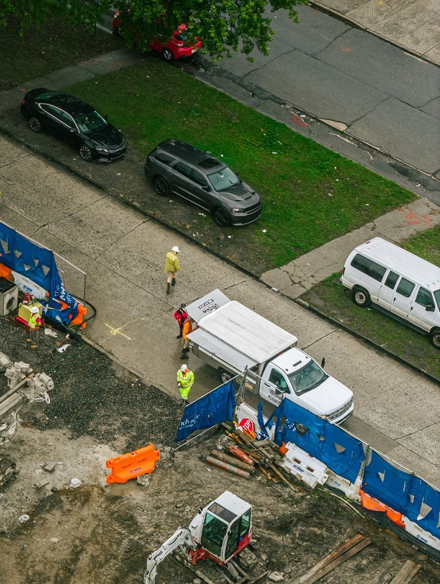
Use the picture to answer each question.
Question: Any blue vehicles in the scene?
No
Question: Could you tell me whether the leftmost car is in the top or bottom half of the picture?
top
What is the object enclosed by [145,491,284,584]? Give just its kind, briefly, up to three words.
work vehicle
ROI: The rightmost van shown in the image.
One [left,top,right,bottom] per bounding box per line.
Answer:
[327,222,440,344]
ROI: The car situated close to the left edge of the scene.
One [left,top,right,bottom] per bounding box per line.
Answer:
[17,81,140,157]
